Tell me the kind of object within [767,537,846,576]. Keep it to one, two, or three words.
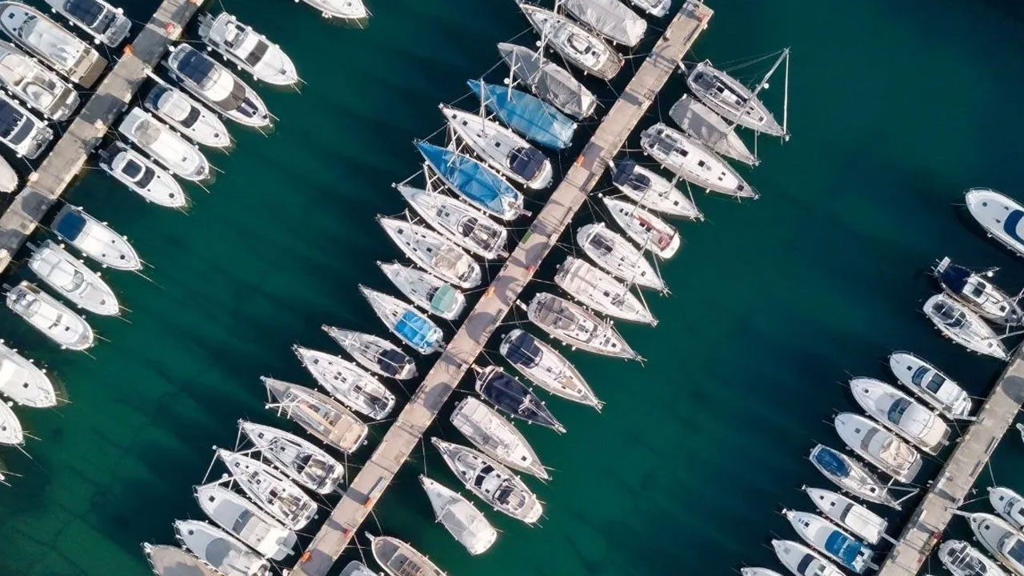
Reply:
boat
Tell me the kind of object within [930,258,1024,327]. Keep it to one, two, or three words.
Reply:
boat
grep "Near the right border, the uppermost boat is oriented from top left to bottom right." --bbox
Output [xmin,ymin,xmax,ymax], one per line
[961,190,1024,263]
